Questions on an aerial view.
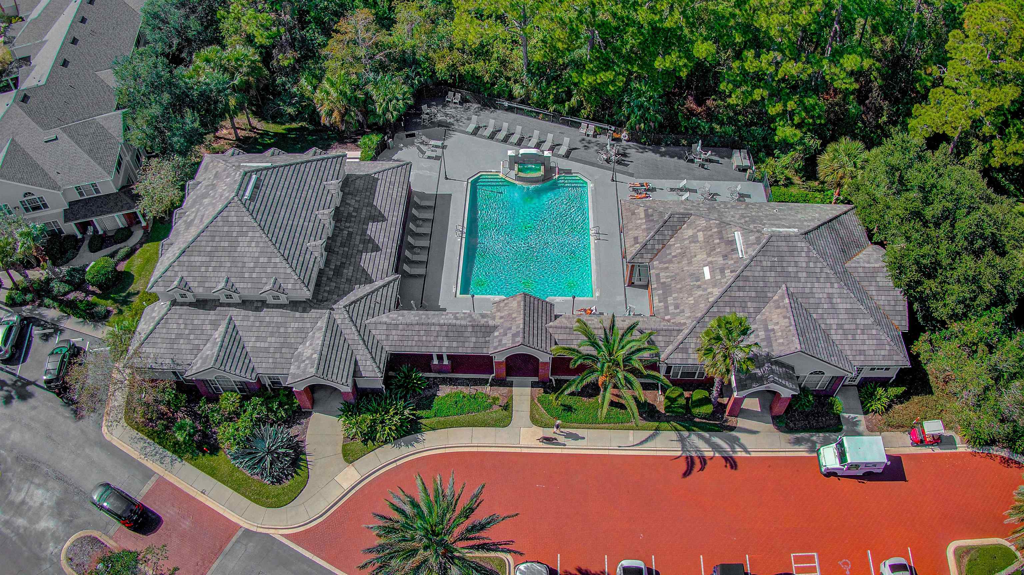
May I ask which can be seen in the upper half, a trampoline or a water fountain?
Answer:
water fountain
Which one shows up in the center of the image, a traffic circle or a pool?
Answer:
pool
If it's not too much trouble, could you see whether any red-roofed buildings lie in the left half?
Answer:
No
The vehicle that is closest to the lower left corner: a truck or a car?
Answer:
car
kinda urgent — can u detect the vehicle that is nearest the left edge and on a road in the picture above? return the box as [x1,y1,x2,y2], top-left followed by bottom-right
[0,312,30,368]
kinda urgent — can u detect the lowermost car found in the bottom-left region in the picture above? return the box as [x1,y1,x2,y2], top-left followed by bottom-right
[84,483,158,541]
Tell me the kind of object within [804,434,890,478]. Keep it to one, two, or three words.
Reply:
truck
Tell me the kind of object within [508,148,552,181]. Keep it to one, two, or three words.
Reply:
fountain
